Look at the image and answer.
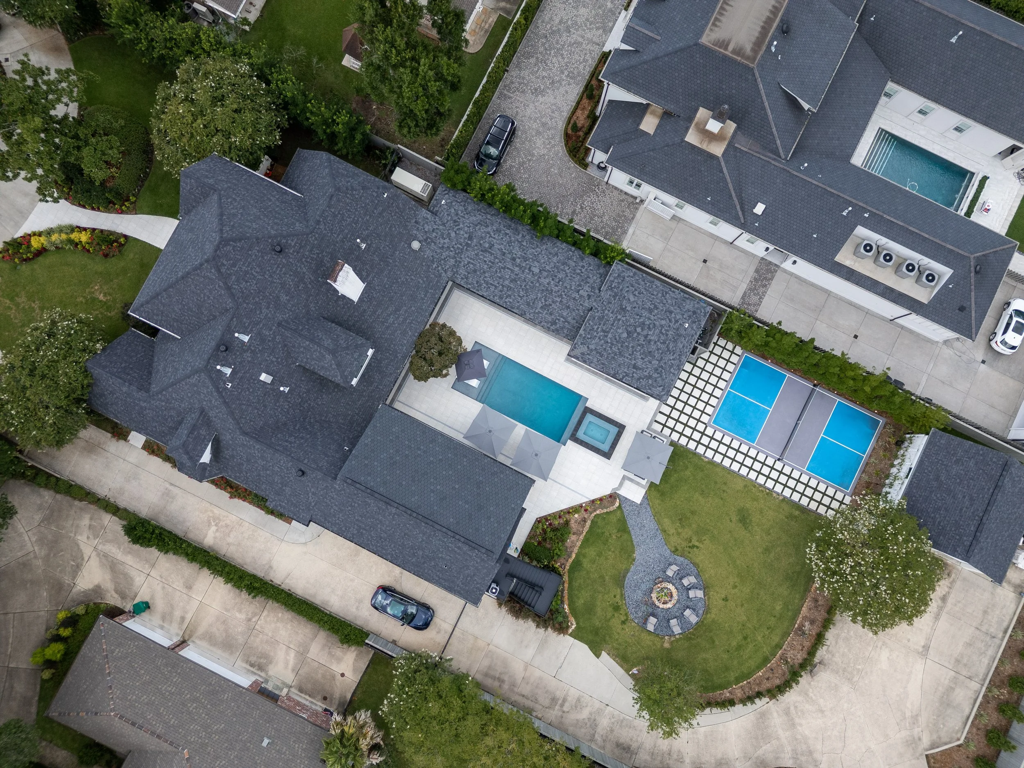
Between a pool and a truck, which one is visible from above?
pool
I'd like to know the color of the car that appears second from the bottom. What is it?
white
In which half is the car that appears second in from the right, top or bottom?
top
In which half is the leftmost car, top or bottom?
bottom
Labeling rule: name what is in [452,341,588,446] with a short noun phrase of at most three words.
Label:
swimming pool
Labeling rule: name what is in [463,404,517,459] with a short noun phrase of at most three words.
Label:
umbrella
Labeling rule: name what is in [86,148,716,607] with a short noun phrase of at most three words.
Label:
house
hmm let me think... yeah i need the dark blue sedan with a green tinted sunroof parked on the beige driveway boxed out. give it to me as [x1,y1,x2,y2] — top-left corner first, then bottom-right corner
[372,587,433,630]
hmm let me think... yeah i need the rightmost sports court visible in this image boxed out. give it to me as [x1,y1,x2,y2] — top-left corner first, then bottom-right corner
[707,349,886,497]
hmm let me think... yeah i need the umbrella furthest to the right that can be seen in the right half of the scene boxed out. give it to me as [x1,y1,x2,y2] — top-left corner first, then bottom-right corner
[622,431,674,484]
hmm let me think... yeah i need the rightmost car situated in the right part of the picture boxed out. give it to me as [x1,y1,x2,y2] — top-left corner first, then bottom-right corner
[989,297,1024,356]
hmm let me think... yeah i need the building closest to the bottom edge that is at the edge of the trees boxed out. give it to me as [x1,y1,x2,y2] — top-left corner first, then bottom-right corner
[44,612,334,768]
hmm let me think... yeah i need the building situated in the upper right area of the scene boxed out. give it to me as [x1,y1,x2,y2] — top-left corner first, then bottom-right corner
[587,0,1024,343]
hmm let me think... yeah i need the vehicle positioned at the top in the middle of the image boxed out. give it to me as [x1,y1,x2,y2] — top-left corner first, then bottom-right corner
[475,110,517,173]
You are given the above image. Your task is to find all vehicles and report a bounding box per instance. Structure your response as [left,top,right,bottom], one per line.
[989,297,1024,356]
[372,587,433,630]
[475,110,517,173]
